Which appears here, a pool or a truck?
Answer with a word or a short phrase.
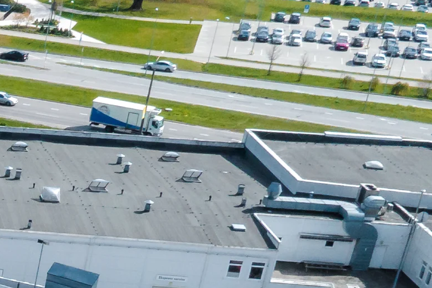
truck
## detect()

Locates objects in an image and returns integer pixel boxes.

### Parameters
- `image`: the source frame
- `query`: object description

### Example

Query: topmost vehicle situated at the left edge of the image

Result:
[0,49,31,63]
